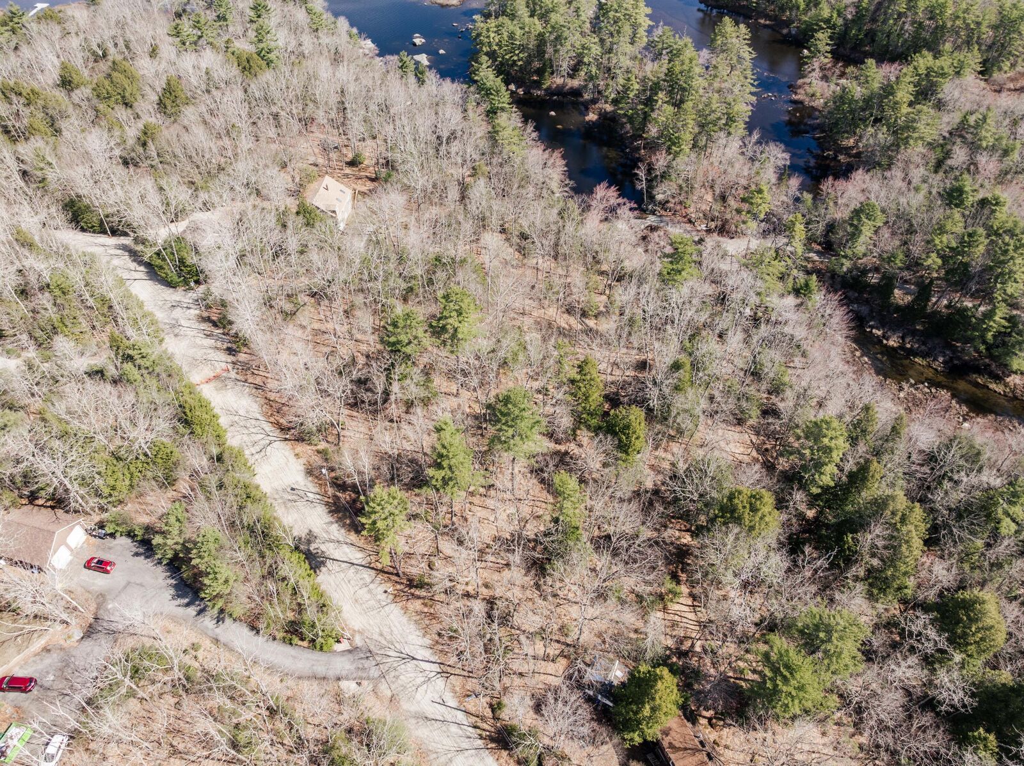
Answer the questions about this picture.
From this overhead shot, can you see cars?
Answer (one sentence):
Yes, the frame does contain a car.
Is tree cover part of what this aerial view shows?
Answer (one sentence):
Yes, there's tree cover in this view.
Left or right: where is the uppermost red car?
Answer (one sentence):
The uppermost red car appears in the left half of the scene.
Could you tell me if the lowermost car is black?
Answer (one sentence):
No, the lowermost car is actually white.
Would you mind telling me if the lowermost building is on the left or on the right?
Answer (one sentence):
It is on the right.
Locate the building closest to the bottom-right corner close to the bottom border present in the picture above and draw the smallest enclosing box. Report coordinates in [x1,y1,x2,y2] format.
[651,703,725,766]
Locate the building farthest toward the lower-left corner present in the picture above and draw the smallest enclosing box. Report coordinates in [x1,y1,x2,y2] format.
[0,497,88,577]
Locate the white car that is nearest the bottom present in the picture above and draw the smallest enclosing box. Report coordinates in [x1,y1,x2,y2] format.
[37,732,70,766]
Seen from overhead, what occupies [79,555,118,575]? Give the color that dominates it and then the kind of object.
red car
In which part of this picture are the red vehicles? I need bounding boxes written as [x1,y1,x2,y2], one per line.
[79,555,118,575]
[0,674,39,695]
